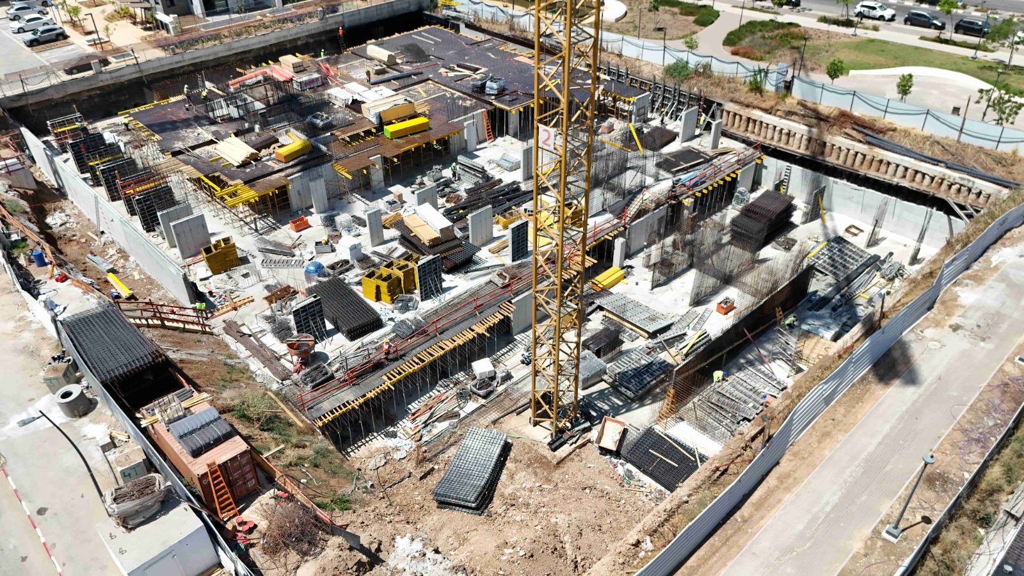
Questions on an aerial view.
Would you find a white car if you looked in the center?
No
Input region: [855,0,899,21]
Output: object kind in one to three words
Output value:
car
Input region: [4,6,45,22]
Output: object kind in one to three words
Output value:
car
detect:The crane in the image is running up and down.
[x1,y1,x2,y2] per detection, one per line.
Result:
[528,0,604,444]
